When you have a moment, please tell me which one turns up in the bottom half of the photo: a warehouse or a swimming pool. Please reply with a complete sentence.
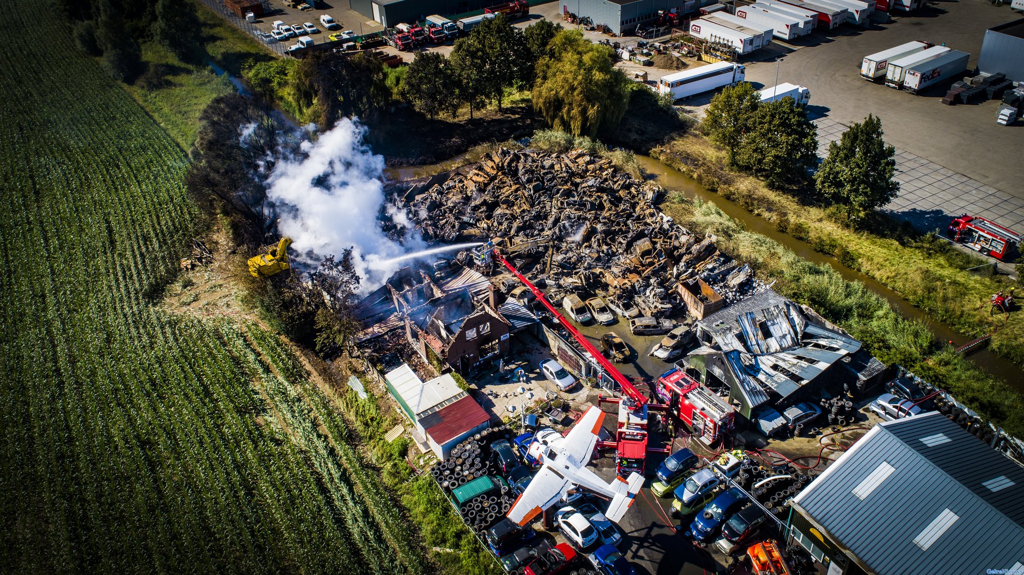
You can see a warehouse in the bottom half of the photo.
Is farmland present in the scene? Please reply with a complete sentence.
Yes, there's farmland in this view.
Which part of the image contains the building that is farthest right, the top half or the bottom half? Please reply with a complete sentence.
You can find the building that is farthest right in the top half.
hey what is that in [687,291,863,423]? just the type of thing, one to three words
warehouse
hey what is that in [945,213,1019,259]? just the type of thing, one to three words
truck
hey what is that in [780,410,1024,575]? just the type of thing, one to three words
warehouse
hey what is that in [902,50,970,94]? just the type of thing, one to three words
trailer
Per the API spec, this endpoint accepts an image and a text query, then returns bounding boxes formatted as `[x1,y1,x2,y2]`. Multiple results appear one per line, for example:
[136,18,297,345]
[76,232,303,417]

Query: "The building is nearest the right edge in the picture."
[976,18,1024,84]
